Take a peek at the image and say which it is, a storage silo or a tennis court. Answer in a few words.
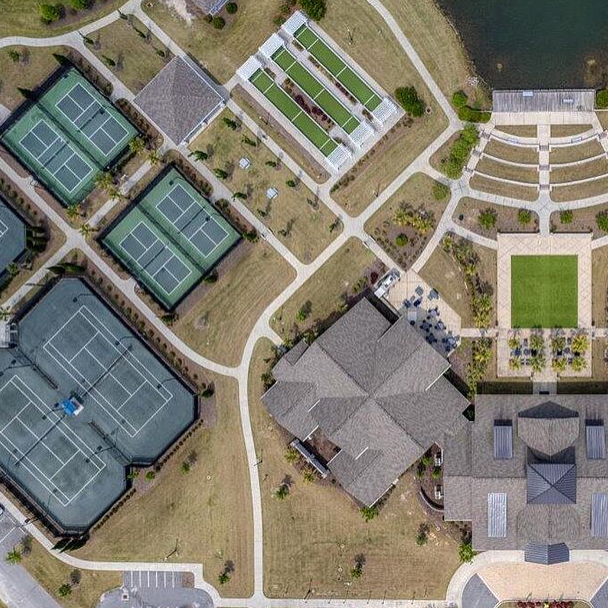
tennis court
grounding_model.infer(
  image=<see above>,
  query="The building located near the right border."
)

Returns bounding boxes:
[423,394,608,565]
